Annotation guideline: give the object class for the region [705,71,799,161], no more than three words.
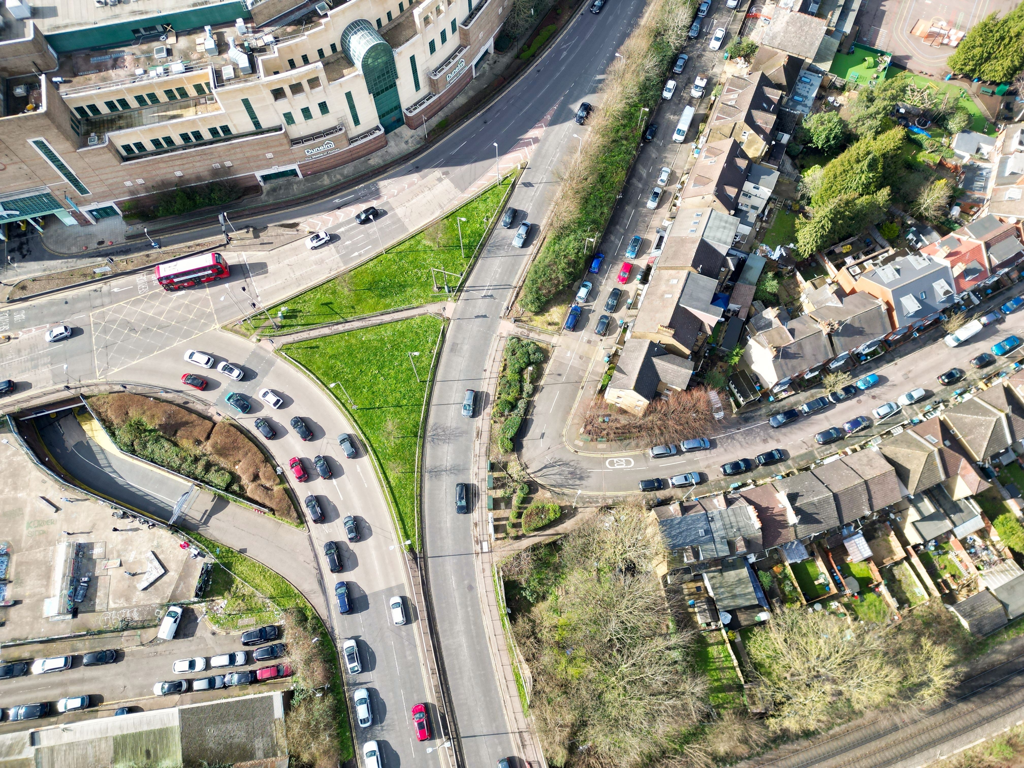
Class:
house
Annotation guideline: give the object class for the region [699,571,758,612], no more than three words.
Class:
shed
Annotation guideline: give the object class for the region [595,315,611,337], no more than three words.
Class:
car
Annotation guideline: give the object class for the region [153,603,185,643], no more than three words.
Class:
van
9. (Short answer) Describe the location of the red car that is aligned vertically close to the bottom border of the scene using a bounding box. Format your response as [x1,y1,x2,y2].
[412,704,433,742]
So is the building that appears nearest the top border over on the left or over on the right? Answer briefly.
right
